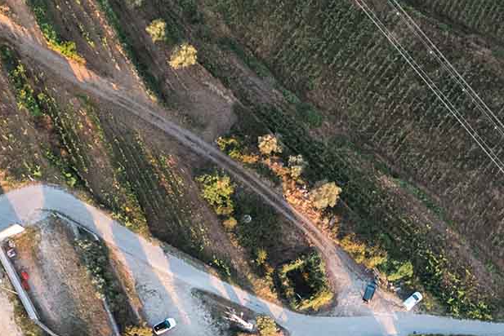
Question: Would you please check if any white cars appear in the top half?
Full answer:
No, no white car can be made out in the top half.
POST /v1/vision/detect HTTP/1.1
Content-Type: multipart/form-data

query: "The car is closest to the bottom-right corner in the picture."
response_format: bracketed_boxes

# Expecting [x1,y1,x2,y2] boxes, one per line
[403,290,423,310]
